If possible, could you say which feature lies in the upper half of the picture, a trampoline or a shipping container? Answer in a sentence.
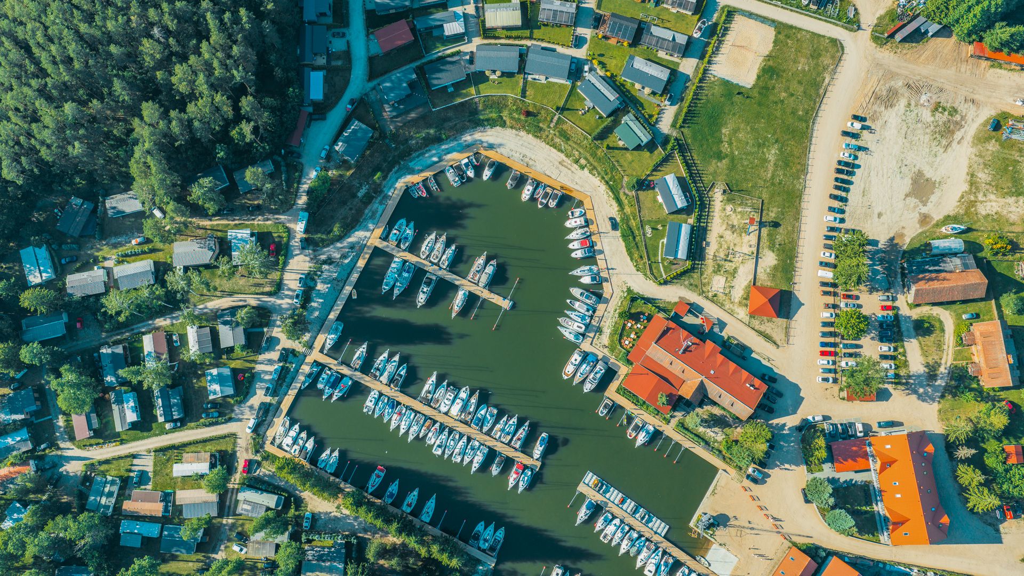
The one visible in the upper half of the picture is a shipping container.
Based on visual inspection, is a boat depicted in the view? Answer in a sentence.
Yes, a boat can be made out from above.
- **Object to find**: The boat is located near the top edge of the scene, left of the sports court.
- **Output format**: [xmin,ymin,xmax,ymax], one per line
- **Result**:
[690,18,707,39]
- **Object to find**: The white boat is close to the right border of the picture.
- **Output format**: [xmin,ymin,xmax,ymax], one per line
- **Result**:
[939,218,981,235]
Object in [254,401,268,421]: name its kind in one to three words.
vehicle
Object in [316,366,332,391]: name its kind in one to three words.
boat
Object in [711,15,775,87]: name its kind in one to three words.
sports court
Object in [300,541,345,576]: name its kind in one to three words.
house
